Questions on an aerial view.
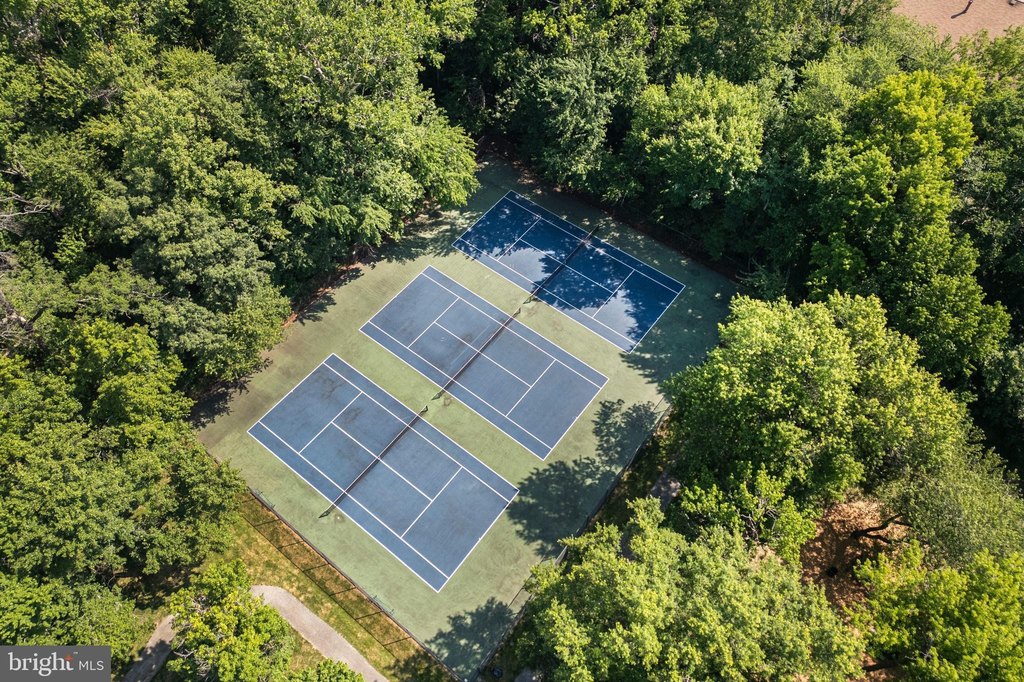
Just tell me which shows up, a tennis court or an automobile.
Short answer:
tennis court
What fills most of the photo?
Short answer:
trees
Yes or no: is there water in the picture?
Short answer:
No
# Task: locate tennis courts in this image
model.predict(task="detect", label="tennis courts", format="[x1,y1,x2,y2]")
[453,191,683,352]
[248,354,518,590]
[360,266,608,459]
